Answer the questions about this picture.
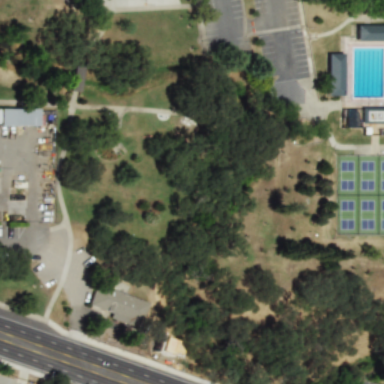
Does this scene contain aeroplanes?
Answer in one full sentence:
No, I can't see a single aeroplane in this photo.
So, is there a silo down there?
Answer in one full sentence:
No, there appears to be no silo in this shot.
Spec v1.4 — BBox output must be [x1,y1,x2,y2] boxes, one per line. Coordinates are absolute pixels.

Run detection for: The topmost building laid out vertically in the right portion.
[330,54,348,96]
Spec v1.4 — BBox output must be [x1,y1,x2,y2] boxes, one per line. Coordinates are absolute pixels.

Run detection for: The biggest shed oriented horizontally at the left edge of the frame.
[4,109,44,126]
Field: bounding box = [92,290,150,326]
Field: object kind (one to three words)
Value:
house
